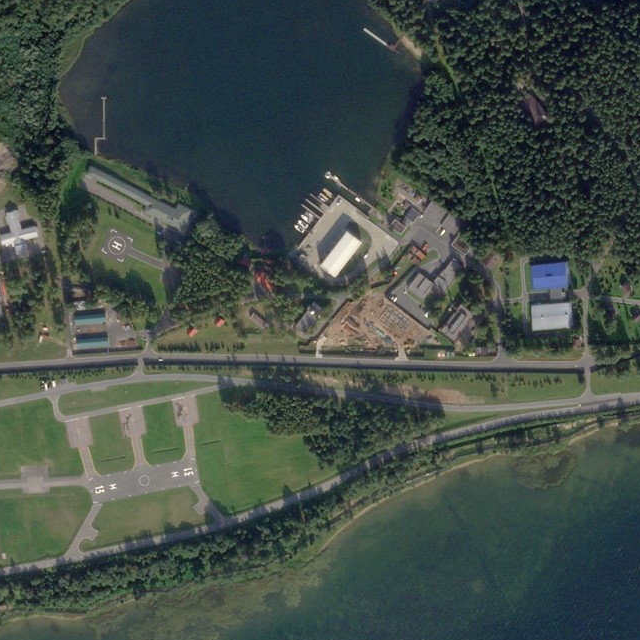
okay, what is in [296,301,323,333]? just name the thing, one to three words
house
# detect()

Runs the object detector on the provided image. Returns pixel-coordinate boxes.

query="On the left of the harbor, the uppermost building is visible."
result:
[85,166,193,231]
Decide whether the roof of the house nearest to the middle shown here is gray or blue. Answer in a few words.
gray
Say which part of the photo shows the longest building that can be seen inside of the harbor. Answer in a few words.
center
